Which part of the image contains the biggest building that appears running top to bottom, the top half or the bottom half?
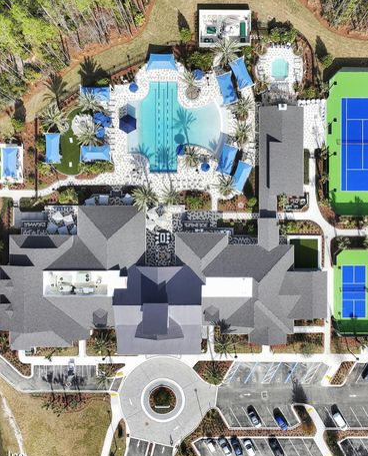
top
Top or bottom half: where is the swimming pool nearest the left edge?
top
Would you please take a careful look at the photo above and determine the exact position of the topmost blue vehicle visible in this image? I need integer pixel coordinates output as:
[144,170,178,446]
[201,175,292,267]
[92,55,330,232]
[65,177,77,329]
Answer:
[274,412,288,431]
